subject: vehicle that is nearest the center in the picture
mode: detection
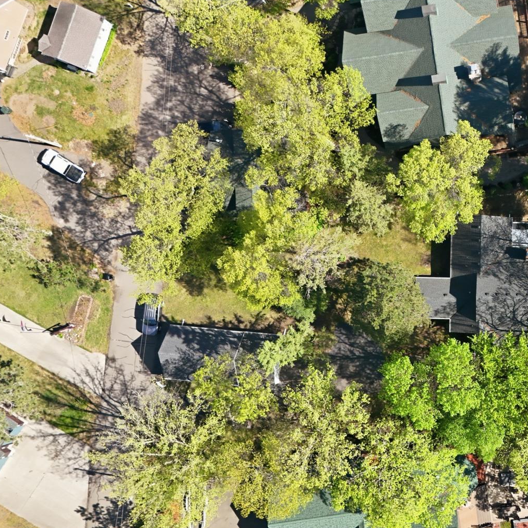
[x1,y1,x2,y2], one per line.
[140,289,163,333]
